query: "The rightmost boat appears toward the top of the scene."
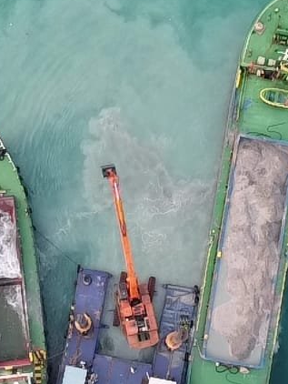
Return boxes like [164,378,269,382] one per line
[259,86,288,109]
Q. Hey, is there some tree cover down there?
No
